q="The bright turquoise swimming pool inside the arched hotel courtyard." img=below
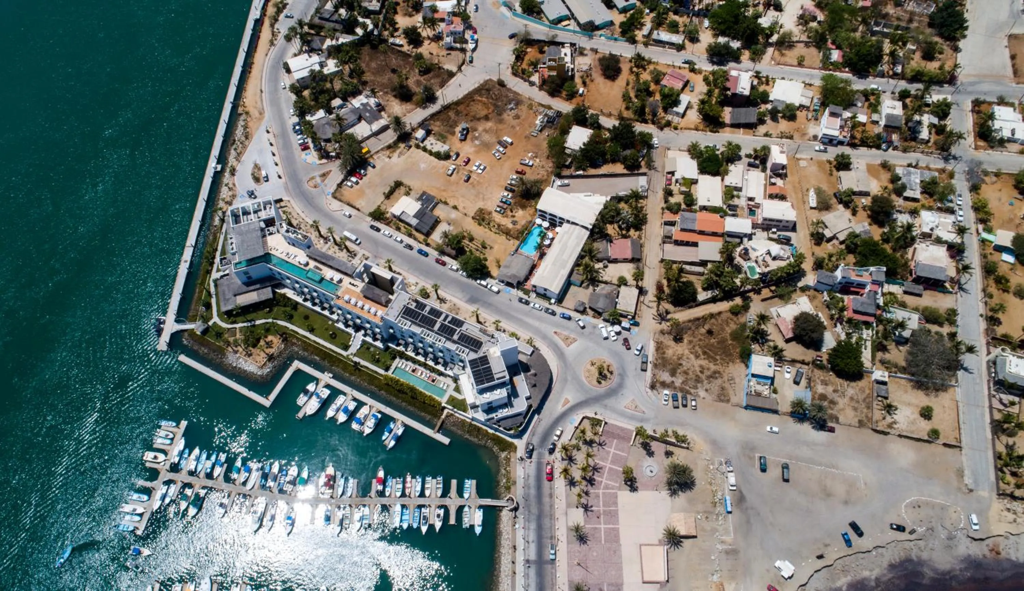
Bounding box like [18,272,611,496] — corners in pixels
[520,225,545,255]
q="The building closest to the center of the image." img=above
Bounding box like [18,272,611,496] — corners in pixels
[496,252,535,289]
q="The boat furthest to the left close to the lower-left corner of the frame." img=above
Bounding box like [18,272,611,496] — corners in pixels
[54,546,73,568]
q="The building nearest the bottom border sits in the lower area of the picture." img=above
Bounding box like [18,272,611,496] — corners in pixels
[667,512,697,537]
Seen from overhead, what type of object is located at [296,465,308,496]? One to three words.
boat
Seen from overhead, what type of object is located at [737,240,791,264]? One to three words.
house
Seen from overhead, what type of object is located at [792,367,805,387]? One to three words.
vehicle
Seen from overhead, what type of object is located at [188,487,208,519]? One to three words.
boat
